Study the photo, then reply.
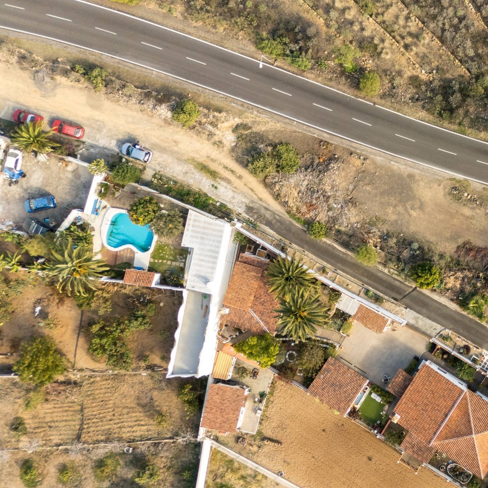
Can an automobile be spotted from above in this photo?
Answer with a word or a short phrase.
Yes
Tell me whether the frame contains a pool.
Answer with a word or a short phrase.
Yes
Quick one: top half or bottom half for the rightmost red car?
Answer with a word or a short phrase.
top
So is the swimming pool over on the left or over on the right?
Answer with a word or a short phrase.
left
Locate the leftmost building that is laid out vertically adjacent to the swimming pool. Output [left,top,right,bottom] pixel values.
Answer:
[168,210,247,380]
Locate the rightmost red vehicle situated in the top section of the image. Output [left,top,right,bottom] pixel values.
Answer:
[54,118,87,139]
